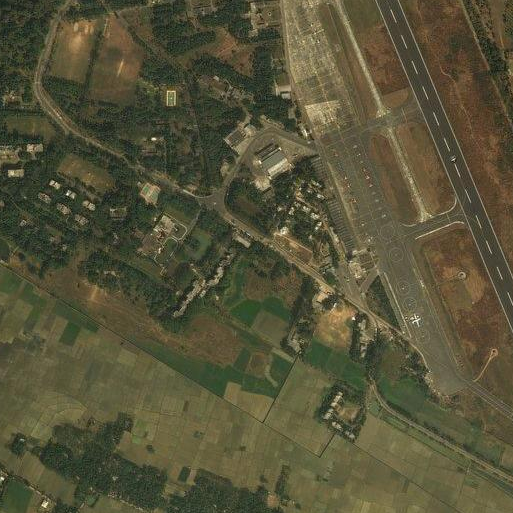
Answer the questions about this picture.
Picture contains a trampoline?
No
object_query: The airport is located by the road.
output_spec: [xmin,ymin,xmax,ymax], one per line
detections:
[285,0,513,421]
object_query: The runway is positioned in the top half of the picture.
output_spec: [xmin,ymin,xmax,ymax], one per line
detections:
[374,0,513,333]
